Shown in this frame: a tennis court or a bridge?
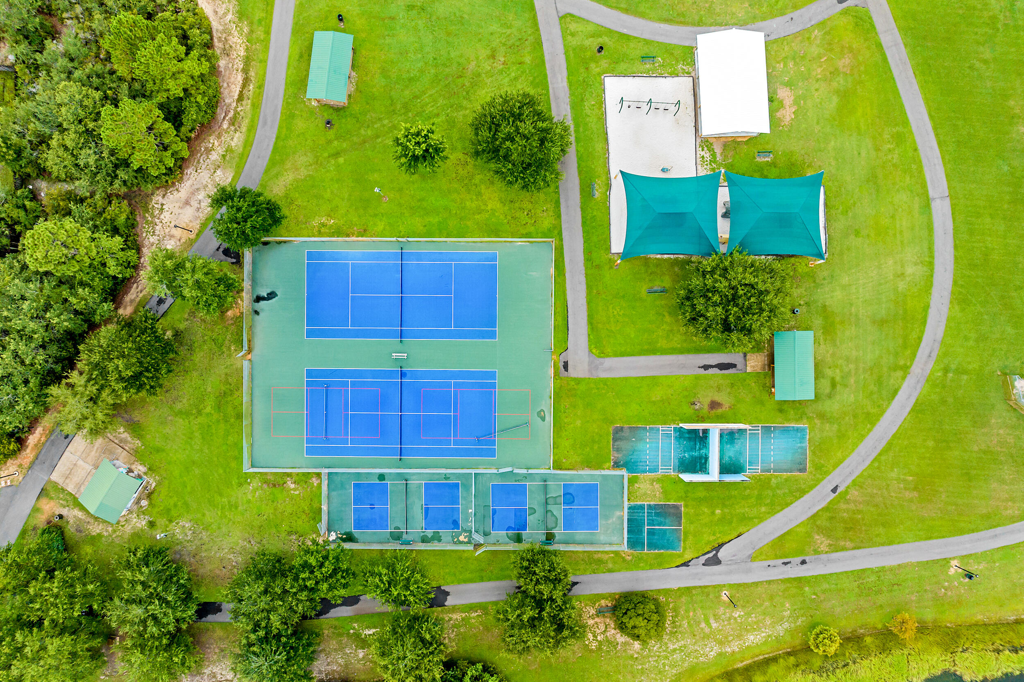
tennis court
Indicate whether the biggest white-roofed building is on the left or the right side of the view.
right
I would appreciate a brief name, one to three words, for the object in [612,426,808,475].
sports court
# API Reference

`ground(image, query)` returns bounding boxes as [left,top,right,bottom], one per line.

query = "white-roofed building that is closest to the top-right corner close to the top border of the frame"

[695,28,770,137]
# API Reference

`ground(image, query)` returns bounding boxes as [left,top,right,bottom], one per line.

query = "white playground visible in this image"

[604,75,828,255]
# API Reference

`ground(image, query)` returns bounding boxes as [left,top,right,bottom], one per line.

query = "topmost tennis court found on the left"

[251,241,552,355]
